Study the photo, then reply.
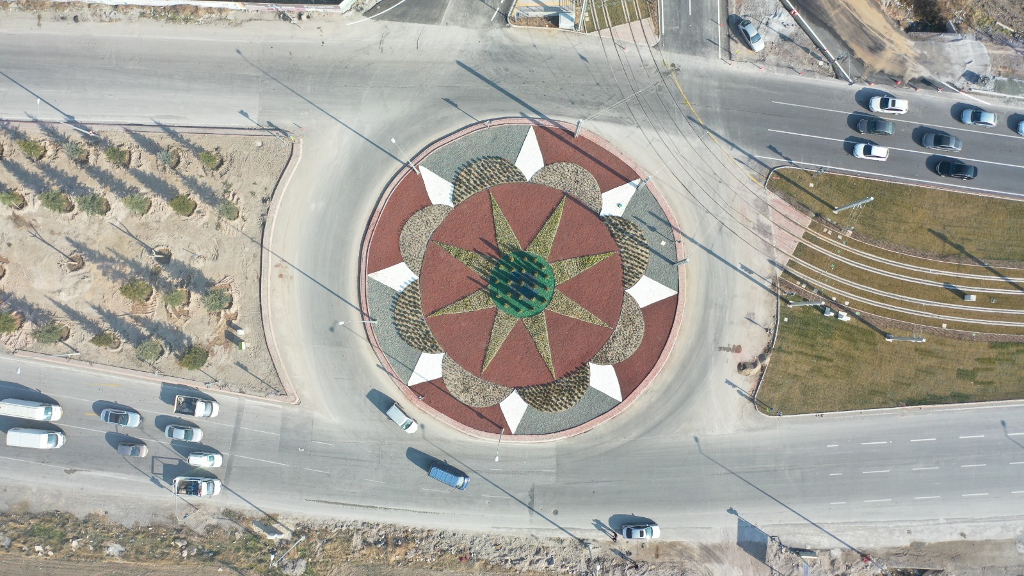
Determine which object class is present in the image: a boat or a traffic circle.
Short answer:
traffic circle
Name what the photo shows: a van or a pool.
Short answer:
van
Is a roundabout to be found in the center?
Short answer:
Yes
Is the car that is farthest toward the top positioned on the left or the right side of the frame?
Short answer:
right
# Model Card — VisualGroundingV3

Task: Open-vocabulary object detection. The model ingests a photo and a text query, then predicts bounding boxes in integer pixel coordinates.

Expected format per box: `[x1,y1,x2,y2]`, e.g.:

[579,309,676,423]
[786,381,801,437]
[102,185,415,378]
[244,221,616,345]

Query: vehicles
[173,476,222,497]
[2,399,67,423]
[101,408,143,429]
[166,424,205,443]
[867,94,909,116]
[622,522,659,542]
[428,461,469,491]
[935,160,978,181]
[737,17,764,54]
[856,117,896,137]
[187,451,224,470]
[117,441,150,460]
[1016,121,1024,137]
[959,108,999,129]
[920,132,962,153]
[12,426,70,449]
[175,397,221,418]
[387,403,419,433]
[851,141,890,162]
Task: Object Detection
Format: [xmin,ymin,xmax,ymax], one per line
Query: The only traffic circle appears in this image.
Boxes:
[358,116,685,443]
